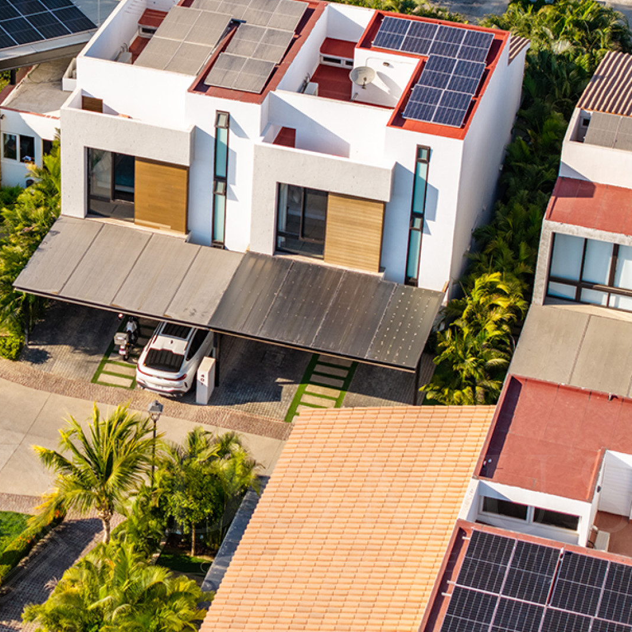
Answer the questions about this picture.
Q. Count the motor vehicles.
2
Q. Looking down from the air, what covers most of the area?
buildings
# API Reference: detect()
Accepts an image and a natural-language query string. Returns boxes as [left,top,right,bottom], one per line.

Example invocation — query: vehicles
[140,325,236,395]
[108,318,147,355]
